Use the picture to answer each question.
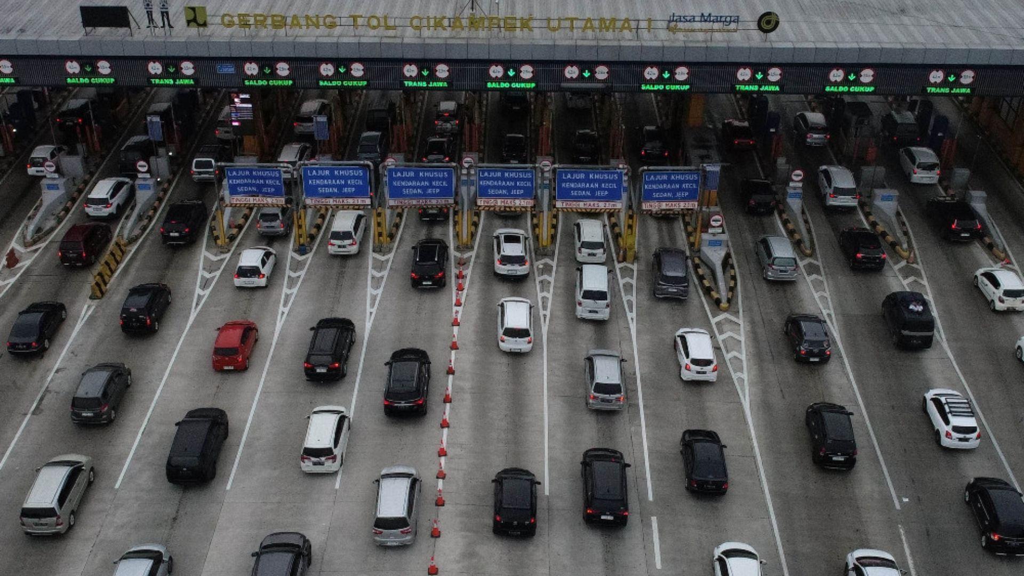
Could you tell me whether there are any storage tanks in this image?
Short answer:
No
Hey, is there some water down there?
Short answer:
No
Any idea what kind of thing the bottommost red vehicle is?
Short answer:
car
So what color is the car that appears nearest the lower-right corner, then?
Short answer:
black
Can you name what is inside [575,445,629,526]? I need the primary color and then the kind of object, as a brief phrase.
black car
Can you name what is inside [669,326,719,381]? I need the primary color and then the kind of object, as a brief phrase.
white car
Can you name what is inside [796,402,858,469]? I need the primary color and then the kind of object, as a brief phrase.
black car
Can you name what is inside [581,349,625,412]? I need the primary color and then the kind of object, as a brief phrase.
gray car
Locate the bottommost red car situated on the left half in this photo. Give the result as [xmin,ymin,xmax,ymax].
[212,319,261,371]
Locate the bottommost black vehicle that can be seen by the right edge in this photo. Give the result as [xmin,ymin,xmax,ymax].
[950,469,1024,555]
